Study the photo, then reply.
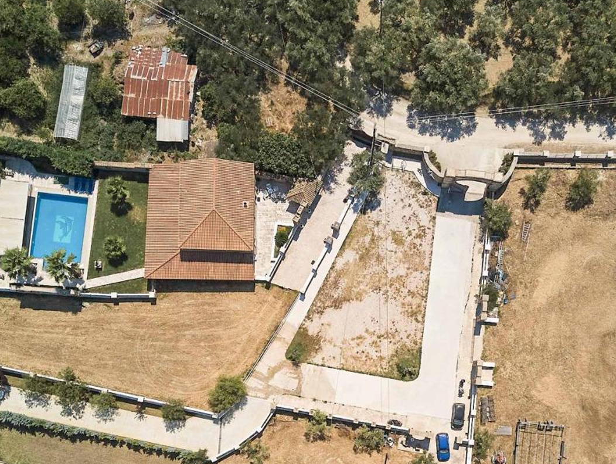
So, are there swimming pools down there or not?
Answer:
Yes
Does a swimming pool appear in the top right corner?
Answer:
No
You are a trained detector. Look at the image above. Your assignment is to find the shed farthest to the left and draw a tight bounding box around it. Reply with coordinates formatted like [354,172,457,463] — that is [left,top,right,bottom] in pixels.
[54,65,92,141]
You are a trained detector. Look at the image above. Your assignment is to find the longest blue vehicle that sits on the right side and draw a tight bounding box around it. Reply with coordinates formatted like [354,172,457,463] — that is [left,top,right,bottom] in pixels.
[436,433,451,461]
